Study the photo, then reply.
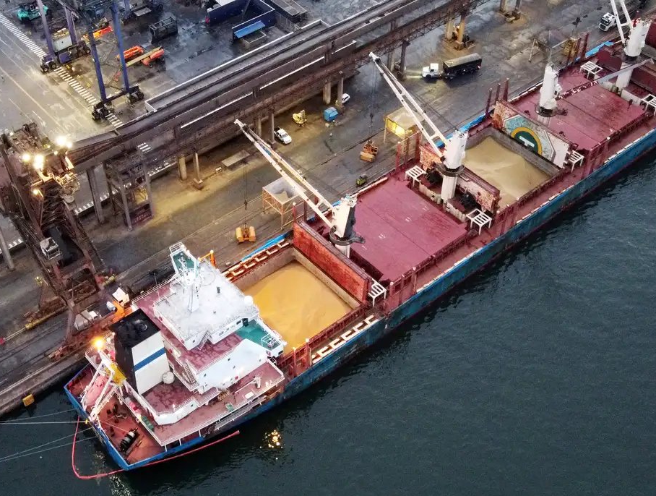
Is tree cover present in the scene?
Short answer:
No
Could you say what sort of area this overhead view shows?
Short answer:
port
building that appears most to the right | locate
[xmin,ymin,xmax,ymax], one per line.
[264,0,310,28]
